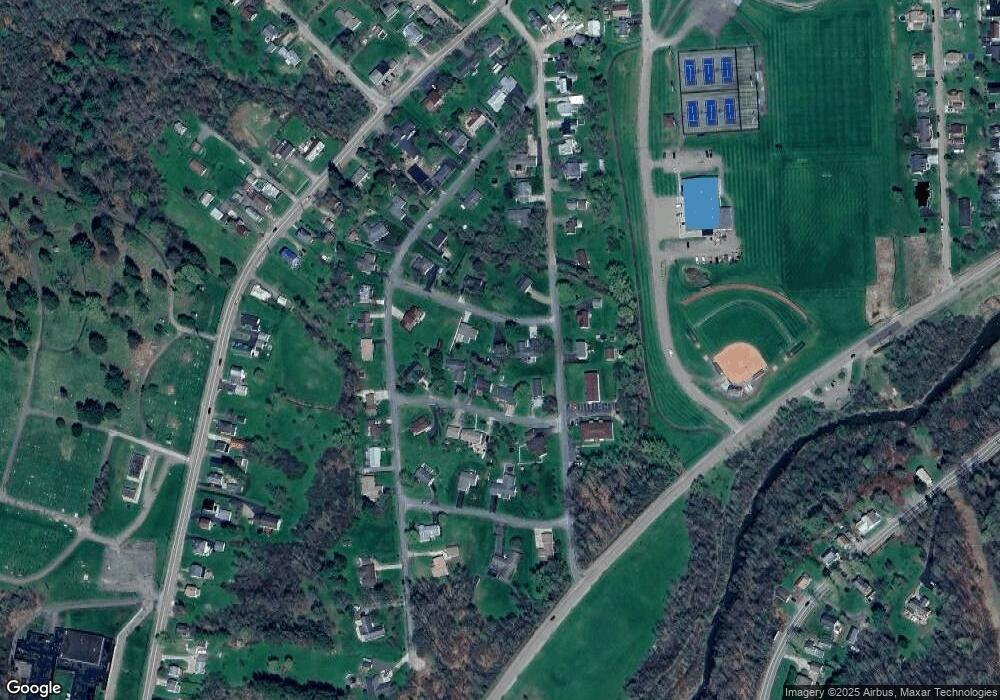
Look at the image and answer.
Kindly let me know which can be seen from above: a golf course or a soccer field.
soccer field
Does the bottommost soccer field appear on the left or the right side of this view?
right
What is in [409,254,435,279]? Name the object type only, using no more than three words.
house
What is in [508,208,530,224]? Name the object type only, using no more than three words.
house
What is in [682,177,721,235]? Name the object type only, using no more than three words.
building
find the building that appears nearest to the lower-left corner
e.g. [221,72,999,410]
[14,629,113,700]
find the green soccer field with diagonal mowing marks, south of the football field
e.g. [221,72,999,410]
[787,155,867,288]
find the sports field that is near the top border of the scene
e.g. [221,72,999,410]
[785,17,876,149]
